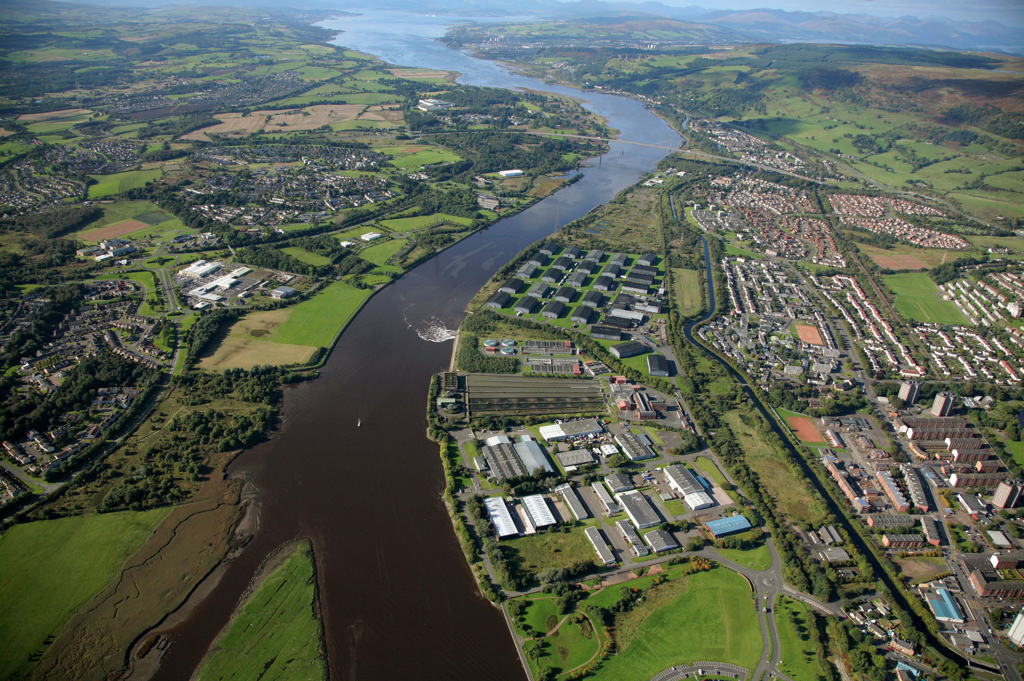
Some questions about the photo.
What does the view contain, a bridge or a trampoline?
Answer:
bridge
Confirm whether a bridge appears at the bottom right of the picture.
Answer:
No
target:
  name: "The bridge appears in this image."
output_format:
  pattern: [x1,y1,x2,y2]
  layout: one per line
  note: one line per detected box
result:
[521,130,812,179]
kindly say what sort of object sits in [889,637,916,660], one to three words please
house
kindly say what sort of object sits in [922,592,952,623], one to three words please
shed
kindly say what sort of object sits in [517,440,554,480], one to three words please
building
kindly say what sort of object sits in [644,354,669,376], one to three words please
building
